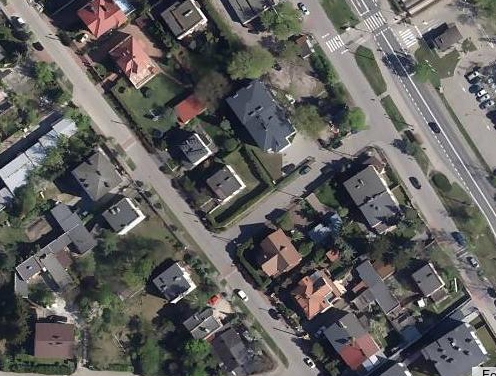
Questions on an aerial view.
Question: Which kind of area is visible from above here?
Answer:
residential area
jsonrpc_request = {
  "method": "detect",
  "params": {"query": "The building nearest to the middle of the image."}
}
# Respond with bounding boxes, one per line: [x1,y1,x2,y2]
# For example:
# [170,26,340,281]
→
[207,165,248,205]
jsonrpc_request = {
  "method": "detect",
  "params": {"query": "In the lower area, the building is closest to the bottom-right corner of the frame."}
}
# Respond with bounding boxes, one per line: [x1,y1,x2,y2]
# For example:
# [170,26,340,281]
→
[424,323,491,376]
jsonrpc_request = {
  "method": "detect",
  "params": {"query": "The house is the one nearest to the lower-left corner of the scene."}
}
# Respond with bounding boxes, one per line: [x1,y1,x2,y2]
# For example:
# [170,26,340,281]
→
[34,322,80,359]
